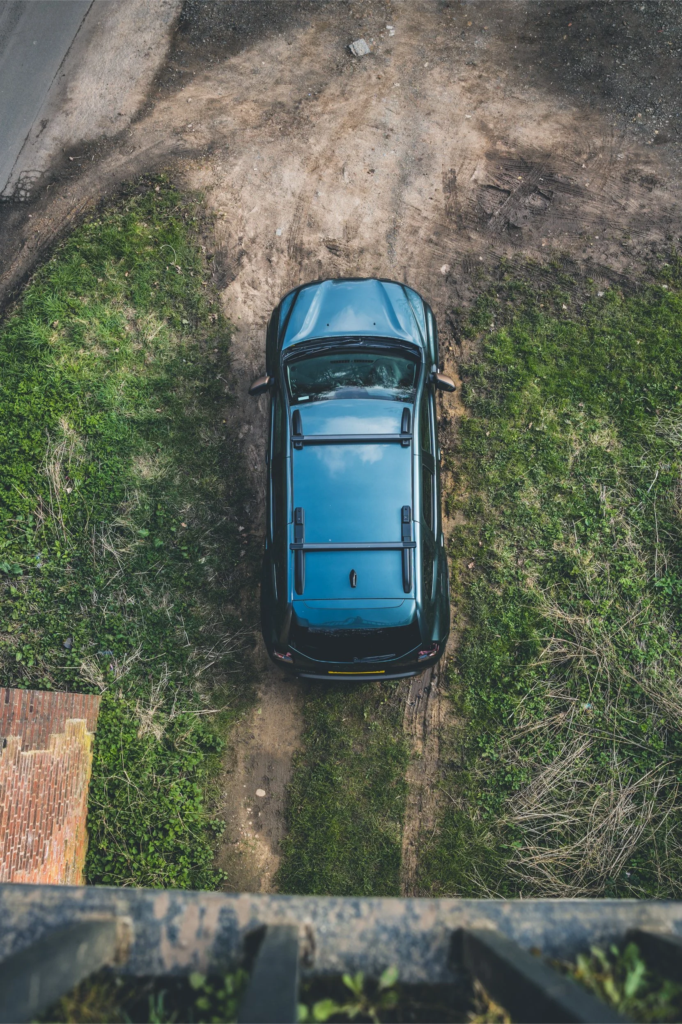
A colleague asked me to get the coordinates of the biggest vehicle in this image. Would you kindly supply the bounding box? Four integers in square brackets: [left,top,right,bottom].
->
[249,275,456,682]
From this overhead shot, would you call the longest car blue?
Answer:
Yes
